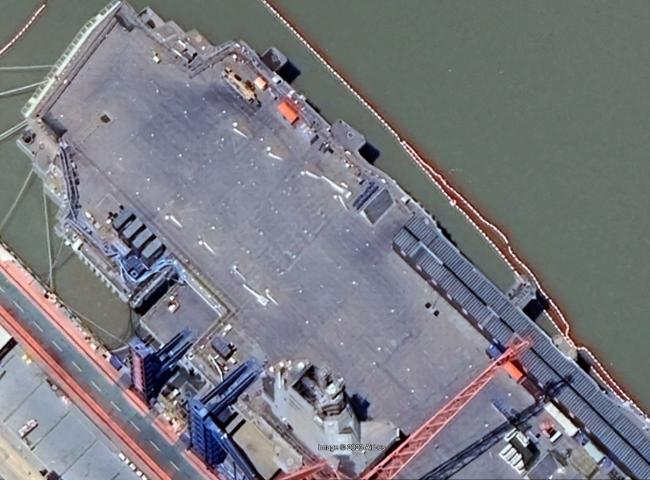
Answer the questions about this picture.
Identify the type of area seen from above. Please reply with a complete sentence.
The area seen from above is a port.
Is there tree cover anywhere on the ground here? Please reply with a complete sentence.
No, no tree cover is visible.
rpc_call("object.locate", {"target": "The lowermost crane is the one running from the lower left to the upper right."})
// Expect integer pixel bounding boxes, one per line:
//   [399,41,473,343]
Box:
[271,337,534,480]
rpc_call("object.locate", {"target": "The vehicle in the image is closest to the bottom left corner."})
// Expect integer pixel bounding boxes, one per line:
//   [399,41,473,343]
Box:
[15,417,40,436]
